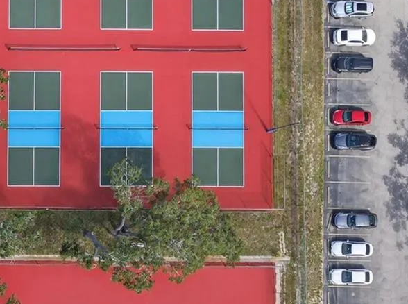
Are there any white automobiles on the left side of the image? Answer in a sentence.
No, no white automobile can be made out on the left side of the image.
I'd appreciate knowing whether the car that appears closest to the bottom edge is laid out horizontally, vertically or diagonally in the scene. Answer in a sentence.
Seen from above, the car that appears closest to the bottom edge lies horizontally.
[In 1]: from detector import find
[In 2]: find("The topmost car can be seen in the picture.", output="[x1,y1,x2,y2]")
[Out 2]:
[330,0,374,21]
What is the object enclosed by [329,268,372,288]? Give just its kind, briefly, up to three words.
car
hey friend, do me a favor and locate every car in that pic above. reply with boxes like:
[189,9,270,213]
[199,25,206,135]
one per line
[333,211,378,231]
[332,27,374,48]
[331,107,372,127]
[330,0,374,21]
[331,54,373,74]
[330,240,373,259]
[329,268,372,288]
[333,132,378,152]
